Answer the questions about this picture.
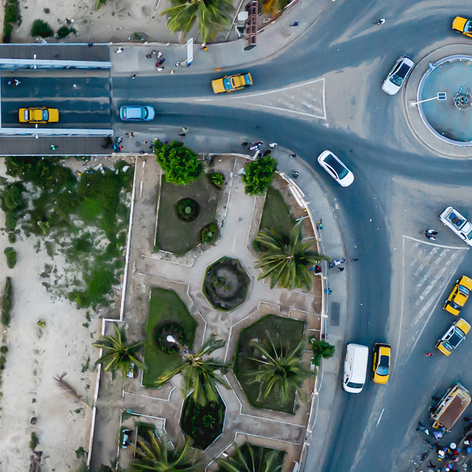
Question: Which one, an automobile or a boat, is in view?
automobile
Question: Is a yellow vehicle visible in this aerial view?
Yes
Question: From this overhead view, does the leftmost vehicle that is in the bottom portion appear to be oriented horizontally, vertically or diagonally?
vertically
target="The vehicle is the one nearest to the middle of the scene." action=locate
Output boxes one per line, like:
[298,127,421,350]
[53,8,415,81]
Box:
[316,148,353,189]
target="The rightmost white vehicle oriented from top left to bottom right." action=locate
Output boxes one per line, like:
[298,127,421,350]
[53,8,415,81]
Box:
[437,205,472,246]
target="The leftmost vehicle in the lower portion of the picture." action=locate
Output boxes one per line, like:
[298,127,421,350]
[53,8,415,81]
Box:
[345,343,366,392]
